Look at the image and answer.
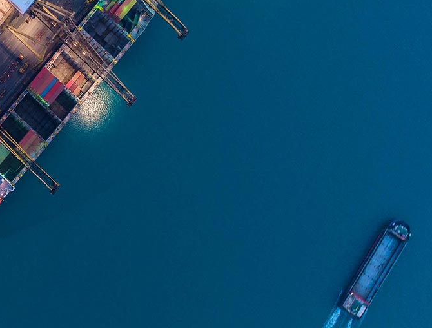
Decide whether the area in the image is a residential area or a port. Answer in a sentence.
It's a port.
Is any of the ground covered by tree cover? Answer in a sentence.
No, the picture contains no tree cover.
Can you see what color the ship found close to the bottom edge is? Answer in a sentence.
The ship found close to the bottom edge looks blue in the image.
